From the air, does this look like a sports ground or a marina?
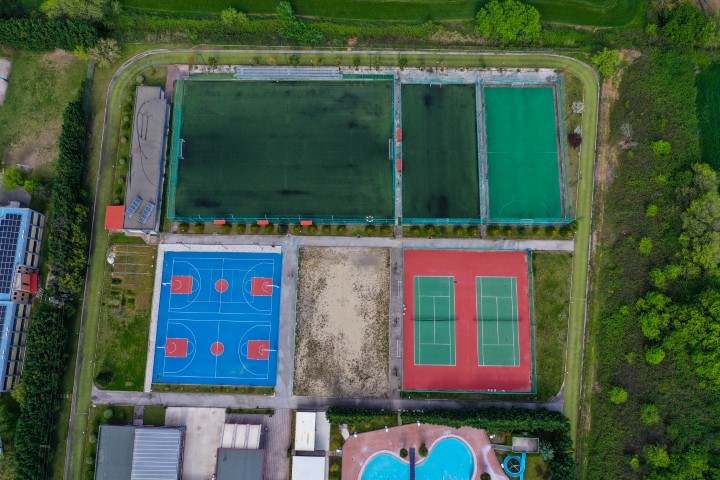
sports ground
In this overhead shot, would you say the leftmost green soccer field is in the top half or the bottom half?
top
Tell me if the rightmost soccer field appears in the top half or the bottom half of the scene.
top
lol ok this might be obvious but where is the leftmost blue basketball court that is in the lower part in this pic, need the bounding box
[152,251,282,387]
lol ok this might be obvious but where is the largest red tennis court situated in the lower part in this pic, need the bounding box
[403,249,533,391]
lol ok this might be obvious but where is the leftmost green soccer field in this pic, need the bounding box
[173,79,394,219]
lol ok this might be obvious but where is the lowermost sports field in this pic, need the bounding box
[293,248,390,397]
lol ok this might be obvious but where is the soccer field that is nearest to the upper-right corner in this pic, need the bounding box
[402,84,481,219]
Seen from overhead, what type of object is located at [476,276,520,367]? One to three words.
tennis court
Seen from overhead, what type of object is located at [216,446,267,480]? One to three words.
building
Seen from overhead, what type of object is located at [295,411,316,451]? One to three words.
shed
